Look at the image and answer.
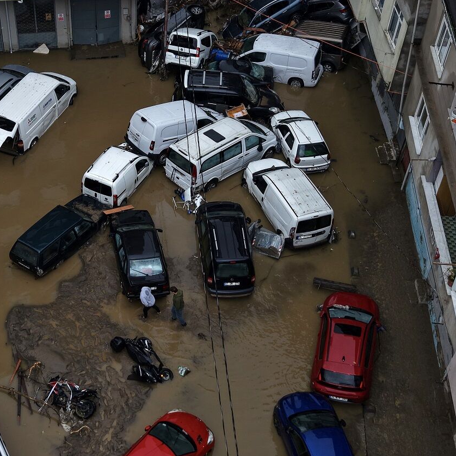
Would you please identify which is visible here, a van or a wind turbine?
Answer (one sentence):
Visible in the photo is a van.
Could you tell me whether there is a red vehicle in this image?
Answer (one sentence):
Yes, the frame does contain a red vehicle.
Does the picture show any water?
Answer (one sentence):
Yes, water shows up in the scene.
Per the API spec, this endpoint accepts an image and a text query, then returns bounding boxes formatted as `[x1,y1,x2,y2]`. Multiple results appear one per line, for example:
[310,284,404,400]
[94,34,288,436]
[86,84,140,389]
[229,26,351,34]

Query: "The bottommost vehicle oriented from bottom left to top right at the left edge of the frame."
[15,197,111,278]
